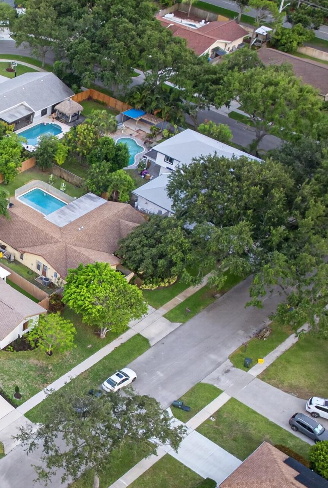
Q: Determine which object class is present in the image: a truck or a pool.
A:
pool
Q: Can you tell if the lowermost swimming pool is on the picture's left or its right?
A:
left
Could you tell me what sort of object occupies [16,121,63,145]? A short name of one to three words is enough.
swimming pool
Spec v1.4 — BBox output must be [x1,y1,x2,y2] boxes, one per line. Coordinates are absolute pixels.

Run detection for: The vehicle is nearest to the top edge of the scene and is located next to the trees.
[103,365,137,390]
